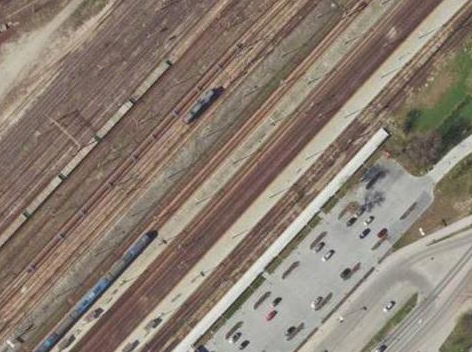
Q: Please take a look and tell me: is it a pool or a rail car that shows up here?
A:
rail car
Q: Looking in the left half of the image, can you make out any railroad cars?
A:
Yes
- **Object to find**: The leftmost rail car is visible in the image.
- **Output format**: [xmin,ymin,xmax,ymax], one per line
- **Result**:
[0,213,30,253]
